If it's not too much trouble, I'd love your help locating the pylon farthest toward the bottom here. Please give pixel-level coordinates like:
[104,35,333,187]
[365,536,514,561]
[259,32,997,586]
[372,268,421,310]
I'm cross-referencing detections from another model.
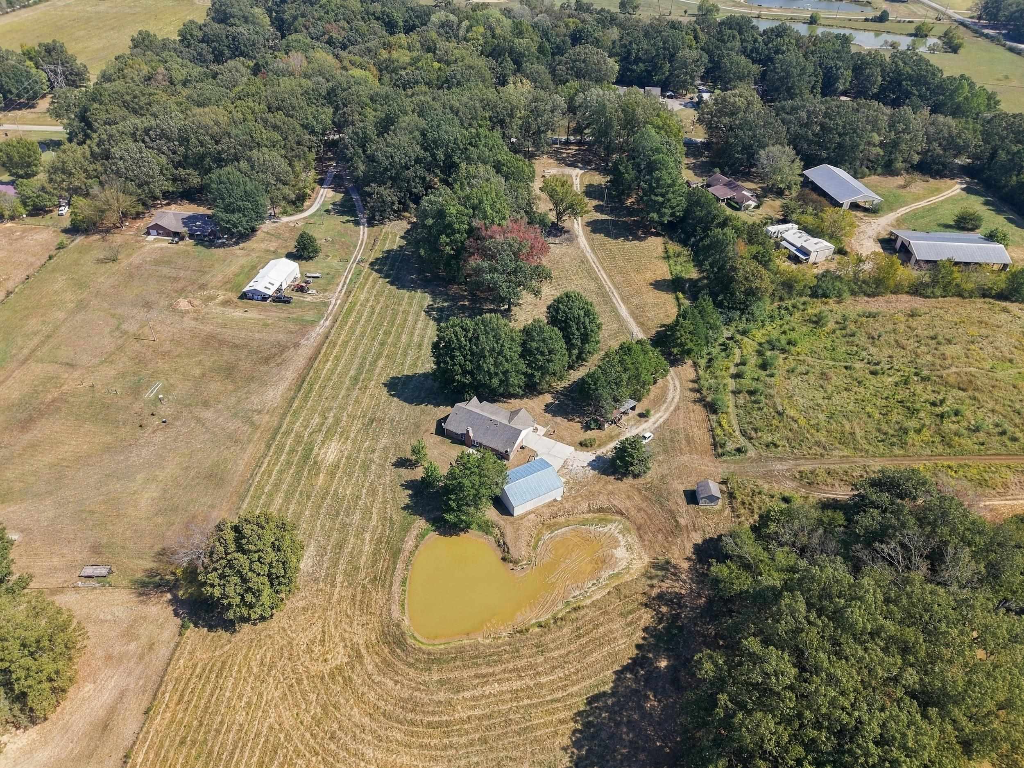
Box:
[33,50,65,90]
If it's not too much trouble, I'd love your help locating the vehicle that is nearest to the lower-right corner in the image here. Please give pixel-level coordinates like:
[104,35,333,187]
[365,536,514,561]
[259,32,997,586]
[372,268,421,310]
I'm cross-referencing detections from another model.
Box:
[640,431,656,445]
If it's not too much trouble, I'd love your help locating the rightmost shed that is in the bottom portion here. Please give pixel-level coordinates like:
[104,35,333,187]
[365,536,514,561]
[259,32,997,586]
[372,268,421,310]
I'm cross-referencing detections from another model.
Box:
[696,480,721,505]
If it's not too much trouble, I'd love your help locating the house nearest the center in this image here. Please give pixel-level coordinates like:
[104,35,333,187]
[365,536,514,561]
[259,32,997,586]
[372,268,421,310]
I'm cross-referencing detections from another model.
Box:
[443,394,540,460]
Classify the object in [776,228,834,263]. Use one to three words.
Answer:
shed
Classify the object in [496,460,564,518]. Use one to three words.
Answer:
building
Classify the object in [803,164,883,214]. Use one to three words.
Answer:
barn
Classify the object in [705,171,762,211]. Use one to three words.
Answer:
house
